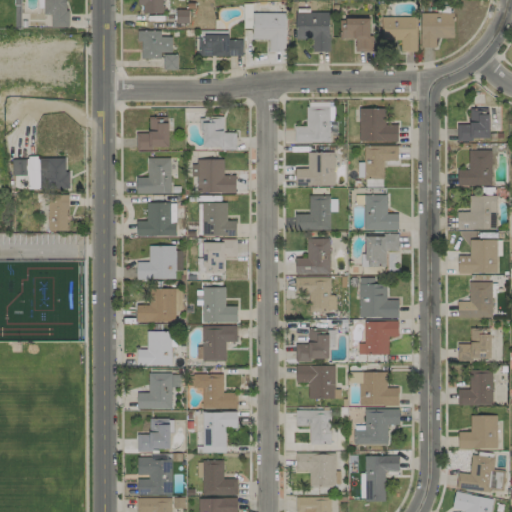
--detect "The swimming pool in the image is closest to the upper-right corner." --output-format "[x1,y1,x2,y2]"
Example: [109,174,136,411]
[394,2,417,16]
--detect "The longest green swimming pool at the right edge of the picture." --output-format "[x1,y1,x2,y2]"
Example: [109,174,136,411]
[495,153,508,182]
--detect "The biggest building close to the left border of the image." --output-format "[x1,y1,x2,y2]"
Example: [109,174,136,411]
[13,156,70,190]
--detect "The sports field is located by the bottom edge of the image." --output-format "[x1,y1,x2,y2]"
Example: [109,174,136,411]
[0,342,86,512]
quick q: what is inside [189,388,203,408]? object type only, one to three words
swimming pool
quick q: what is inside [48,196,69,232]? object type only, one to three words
building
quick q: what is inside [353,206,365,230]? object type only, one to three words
swimming pool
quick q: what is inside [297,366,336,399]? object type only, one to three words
house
